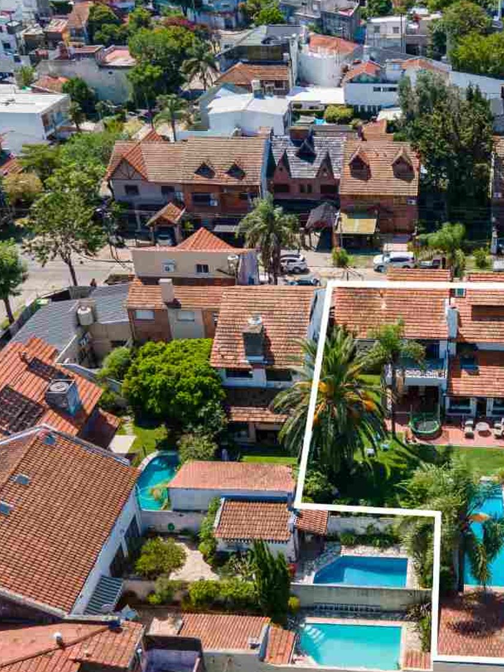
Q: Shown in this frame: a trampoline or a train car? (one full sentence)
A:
The one in the frame is a trampoline.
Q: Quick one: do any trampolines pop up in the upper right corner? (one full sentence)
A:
No, no trampoline appears in the upper right corner.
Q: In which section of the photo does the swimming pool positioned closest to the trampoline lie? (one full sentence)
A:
You can find the swimming pool positioned closest to the trampoline in the bottom right area of the picture.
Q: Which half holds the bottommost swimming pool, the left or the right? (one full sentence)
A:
It is on the right.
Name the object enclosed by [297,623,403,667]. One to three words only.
swimming pool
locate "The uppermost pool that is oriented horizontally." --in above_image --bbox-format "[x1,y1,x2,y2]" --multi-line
[316,555,412,582]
